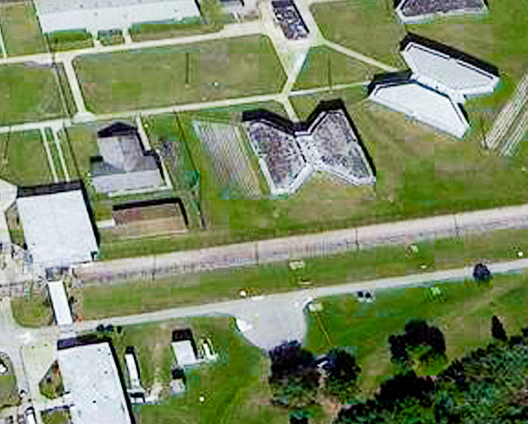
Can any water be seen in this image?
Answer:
No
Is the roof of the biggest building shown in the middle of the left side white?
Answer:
Yes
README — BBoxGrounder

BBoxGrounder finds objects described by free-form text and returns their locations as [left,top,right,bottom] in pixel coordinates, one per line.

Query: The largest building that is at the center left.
[16,190,99,275]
